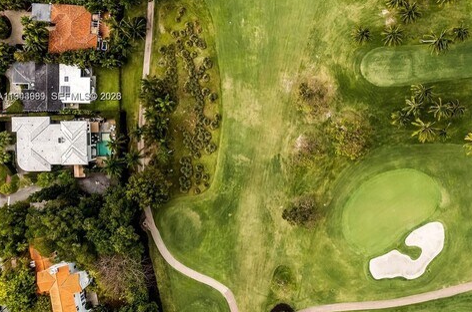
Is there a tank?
No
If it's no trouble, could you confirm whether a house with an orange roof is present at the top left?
Yes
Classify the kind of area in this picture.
golf course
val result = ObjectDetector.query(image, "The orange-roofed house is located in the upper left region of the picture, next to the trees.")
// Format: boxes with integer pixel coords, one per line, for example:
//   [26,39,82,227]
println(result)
[32,2,103,53]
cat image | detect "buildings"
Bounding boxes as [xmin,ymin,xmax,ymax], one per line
[10,62,98,110]
[11,116,96,178]
[32,2,103,53]
[29,245,95,312]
